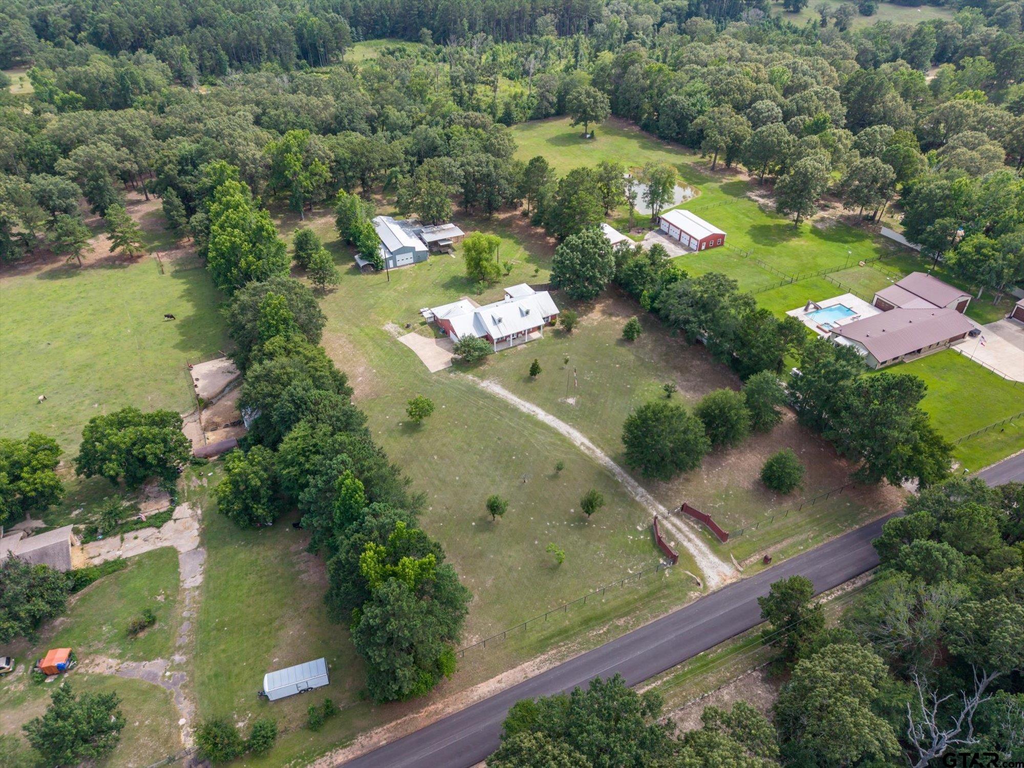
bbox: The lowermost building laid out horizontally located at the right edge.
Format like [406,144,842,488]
[826,307,975,368]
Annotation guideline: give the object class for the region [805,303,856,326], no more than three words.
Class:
swimming pool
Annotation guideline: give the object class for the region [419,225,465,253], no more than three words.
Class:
shed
